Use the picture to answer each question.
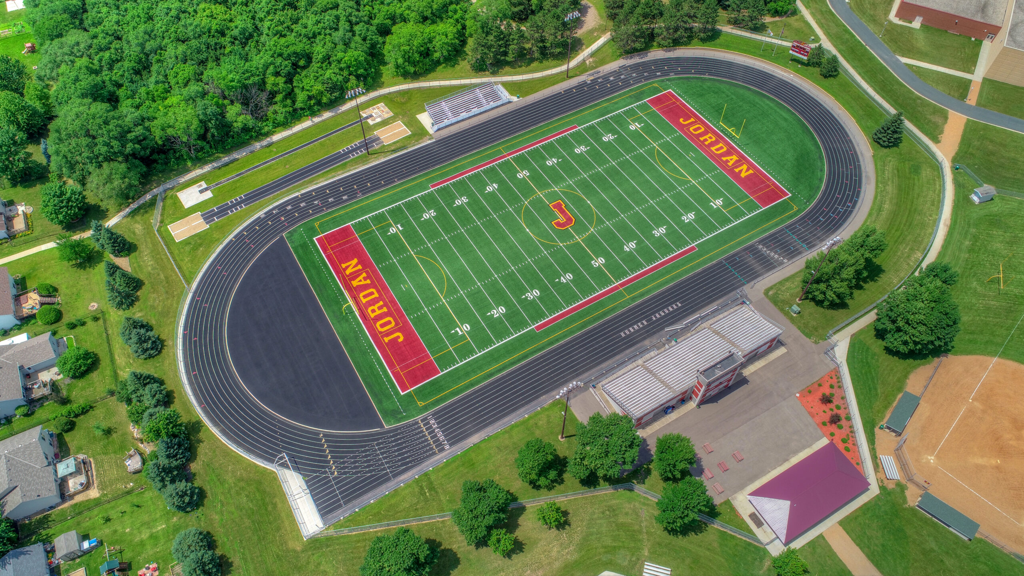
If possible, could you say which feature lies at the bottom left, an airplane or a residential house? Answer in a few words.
residential house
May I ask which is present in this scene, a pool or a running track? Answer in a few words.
running track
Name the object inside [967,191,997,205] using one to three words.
shed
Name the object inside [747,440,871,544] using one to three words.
building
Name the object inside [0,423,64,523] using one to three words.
house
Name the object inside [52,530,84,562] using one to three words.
shed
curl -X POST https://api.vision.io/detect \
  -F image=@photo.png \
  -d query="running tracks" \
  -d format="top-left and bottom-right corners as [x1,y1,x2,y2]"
[184,57,864,476]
